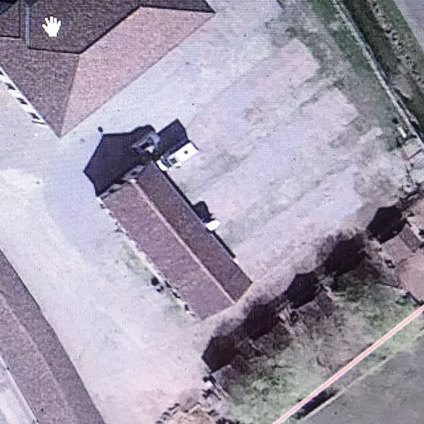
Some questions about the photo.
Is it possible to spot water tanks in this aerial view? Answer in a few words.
No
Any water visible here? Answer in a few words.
No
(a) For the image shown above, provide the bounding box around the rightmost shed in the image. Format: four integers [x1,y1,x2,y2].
[374,227,424,263]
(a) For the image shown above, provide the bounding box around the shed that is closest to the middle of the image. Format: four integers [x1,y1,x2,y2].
[94,161,253,320]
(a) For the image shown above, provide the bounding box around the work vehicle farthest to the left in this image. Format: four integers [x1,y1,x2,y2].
[132,132,158,156]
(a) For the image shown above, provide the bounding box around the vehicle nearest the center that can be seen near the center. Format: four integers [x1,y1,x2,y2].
[204,215,220,231]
